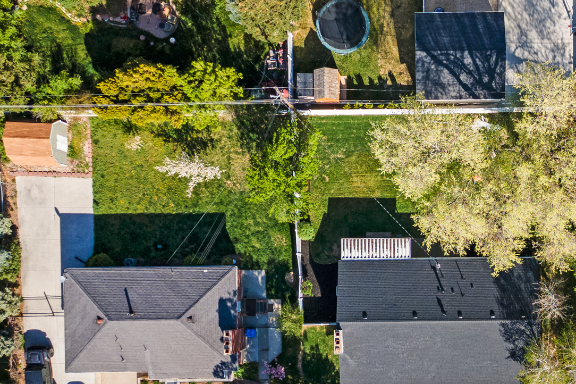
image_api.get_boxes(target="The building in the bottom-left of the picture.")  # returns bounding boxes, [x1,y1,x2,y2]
[56,265,248,382]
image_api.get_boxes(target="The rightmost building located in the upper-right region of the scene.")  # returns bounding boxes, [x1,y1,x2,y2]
[417,12,506,102]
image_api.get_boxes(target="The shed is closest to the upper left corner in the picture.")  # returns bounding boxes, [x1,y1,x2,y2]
[3,120,69,166]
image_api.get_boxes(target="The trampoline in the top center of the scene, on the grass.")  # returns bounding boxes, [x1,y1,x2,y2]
[315,0,370,53]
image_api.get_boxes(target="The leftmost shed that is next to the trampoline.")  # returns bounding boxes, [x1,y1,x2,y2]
[315,68,340,105]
